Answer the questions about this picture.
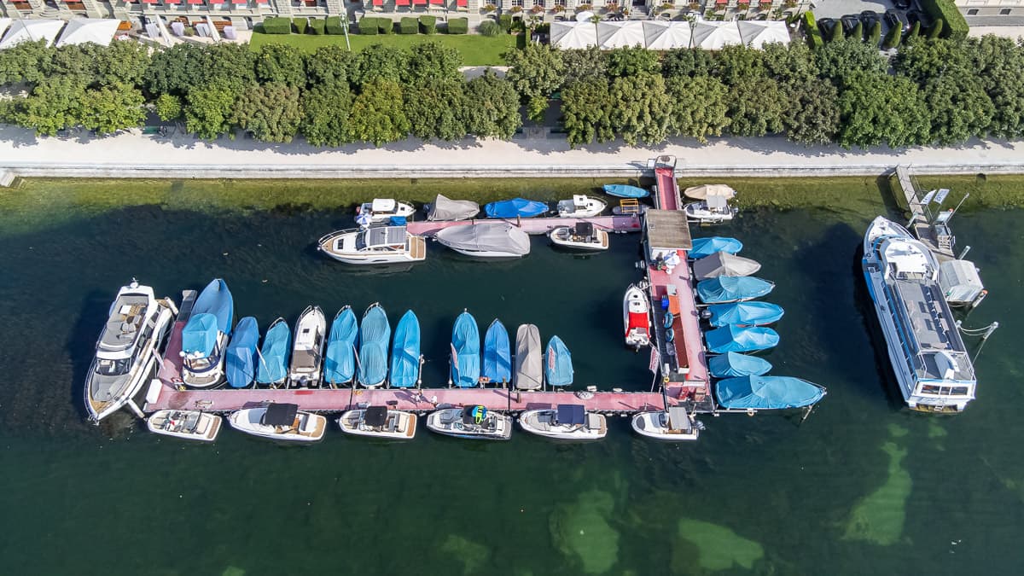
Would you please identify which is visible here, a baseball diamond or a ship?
ship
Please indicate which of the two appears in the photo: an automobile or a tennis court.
automobile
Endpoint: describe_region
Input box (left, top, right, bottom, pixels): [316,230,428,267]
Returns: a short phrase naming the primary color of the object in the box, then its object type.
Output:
white boat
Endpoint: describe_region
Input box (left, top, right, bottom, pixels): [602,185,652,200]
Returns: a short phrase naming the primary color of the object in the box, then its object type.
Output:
blue boat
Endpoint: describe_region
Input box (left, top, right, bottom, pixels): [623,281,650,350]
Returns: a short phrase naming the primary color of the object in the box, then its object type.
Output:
white boat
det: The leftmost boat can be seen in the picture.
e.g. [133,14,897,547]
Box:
[86,273,180,427]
